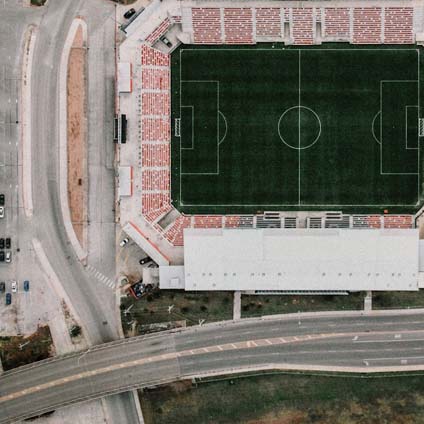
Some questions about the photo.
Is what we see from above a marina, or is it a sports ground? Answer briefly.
sports ground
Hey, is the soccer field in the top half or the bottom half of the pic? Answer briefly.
top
